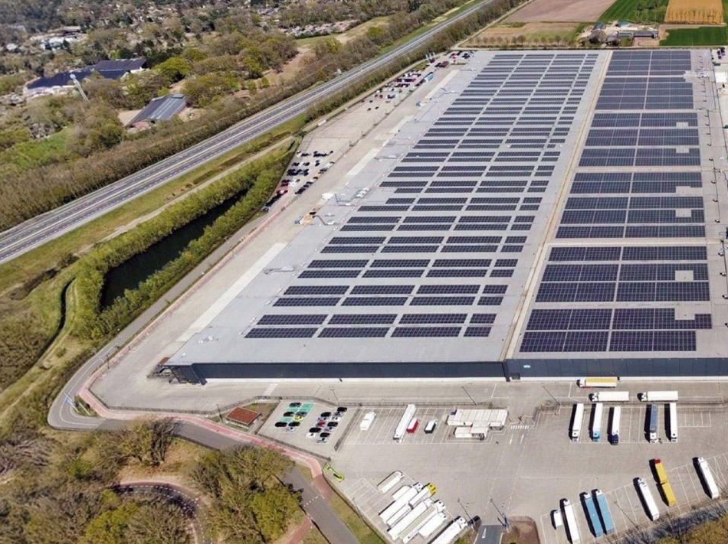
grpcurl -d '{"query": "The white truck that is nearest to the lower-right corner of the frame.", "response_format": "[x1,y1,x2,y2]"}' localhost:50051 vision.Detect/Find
[697,458,718,502]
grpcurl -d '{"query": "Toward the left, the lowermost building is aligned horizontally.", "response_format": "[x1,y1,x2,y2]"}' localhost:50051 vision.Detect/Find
[226,408,263,428]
